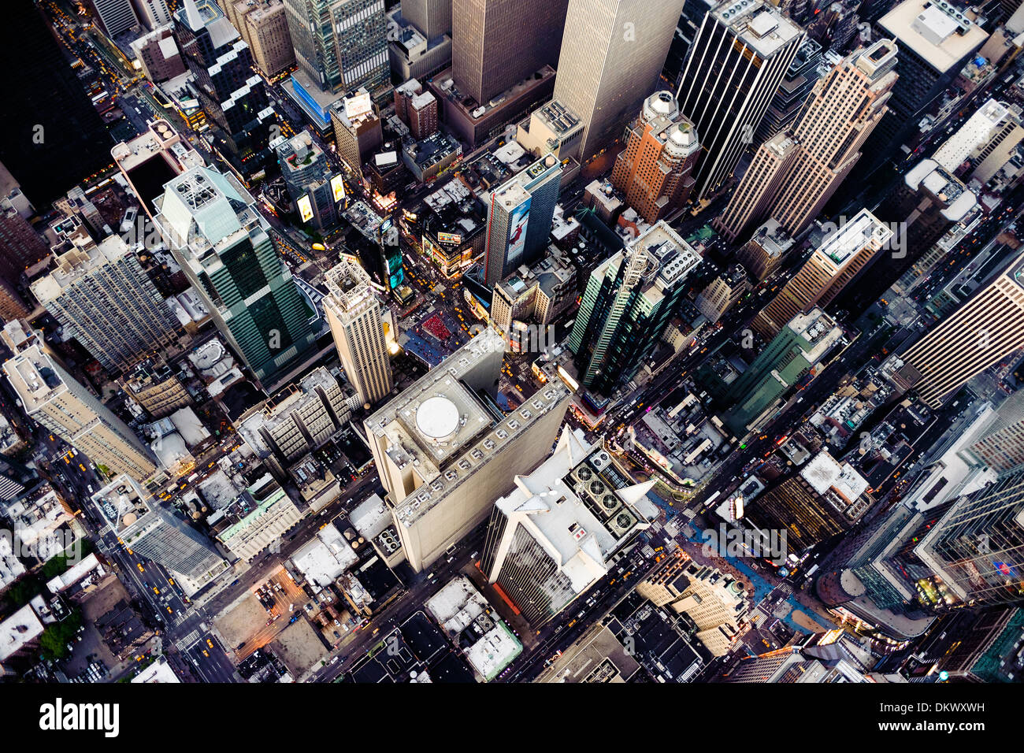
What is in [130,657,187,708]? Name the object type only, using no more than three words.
building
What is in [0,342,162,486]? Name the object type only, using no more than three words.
building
